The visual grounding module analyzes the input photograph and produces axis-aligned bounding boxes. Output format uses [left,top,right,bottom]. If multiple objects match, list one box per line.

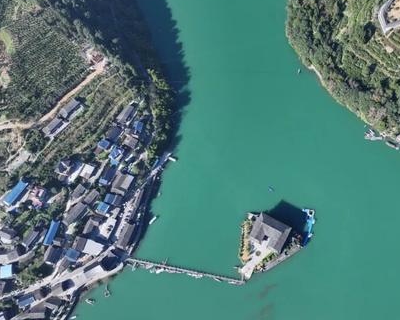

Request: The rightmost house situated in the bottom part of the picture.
[249,209,292,254]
